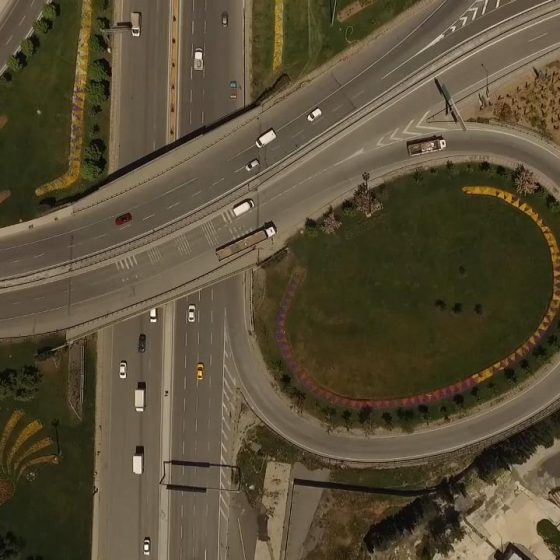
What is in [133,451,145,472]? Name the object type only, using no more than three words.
vehicle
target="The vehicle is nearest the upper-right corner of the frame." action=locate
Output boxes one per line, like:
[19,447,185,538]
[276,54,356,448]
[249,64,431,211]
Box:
[406,138,446,155]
